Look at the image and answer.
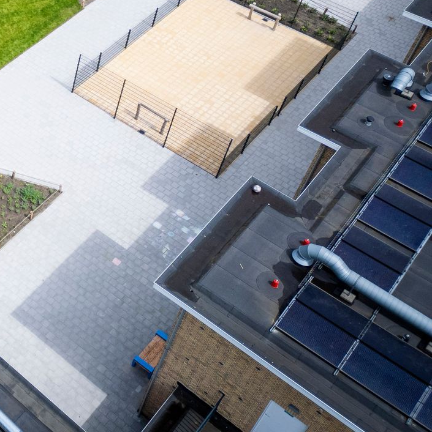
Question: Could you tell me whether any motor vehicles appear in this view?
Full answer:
No, the frame has no motor vehicle in it.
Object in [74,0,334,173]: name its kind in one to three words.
sports court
